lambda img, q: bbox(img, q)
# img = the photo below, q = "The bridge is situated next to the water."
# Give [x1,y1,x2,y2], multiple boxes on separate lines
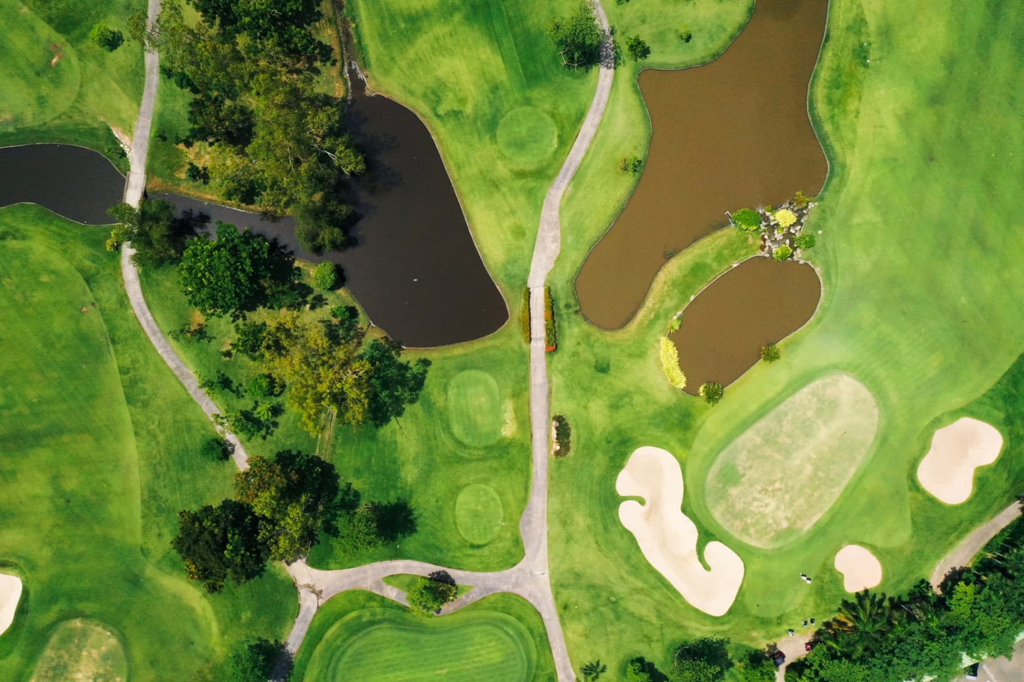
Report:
[117,171,147,226]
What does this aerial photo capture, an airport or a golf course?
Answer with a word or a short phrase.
golf course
